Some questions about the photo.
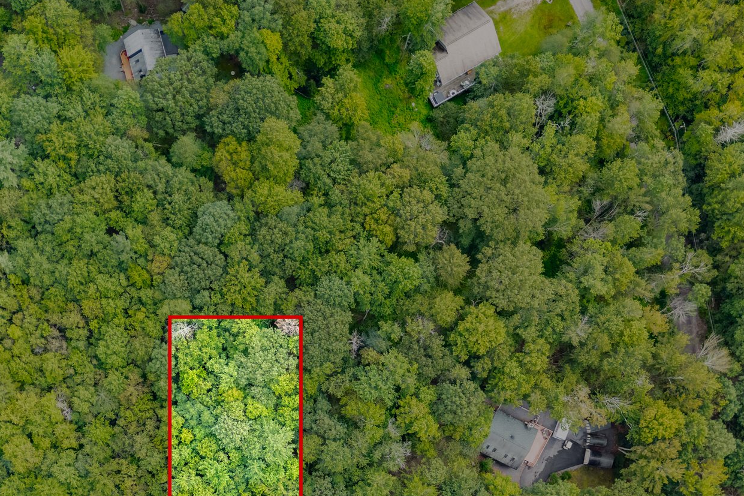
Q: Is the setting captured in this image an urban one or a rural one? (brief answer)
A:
rural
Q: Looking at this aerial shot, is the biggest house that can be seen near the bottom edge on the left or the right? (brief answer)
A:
right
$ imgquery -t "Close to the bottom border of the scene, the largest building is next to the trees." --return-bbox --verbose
[478,406,553,488]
